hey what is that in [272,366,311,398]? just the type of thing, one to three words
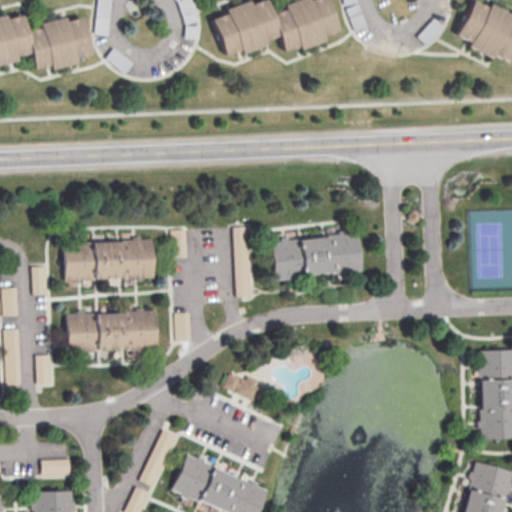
swimming pool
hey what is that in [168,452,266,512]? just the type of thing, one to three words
building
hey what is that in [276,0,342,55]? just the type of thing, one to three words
building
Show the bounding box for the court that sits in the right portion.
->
[468,210,512,290]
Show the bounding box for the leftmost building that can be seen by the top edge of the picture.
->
[0,13,94,74]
